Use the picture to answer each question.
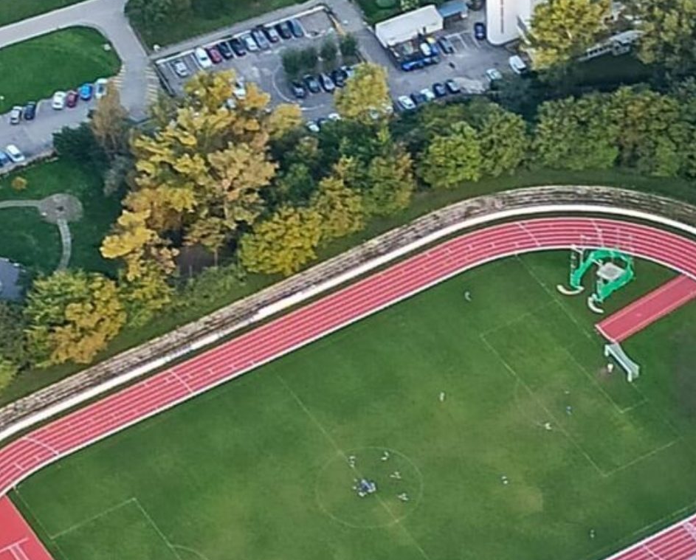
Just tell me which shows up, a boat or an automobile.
automobile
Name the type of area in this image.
sports ground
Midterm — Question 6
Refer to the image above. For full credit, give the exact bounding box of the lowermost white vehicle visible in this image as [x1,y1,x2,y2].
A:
[5,144,25,162]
